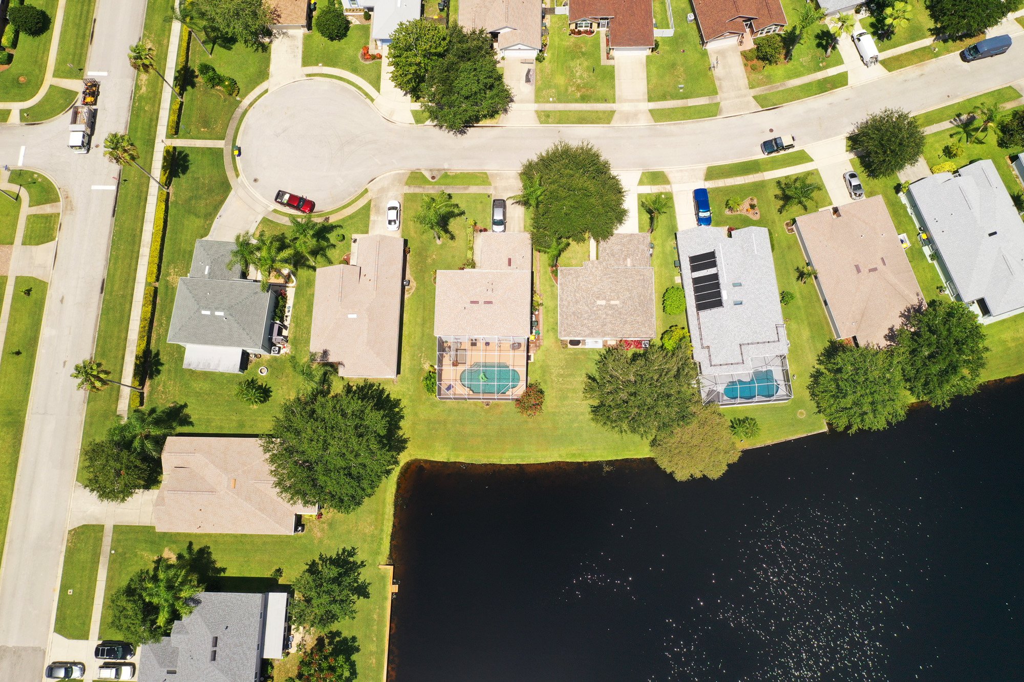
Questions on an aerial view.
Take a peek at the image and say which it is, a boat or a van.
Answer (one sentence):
Visible in the photo is a van.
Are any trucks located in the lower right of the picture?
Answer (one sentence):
No, there is no truck in the lower right of the picture.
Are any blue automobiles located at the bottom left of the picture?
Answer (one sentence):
No, there is no blue automobile at the bottom left of the picture.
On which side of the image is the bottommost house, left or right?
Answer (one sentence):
The bottommost house is on the left side of the image.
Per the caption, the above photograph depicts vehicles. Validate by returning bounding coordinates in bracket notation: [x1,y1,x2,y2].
[271,187,314,212]
[846,167,867,198]
[92,664,133,682]
[761,130,798,152]
[695,185,713,225]
[490,196,506,232]
[960,30,1020,60]
[385,198,399,229]
[89,644,133,663]
[65,99,91,153]
[40,663,83,682]
[855,25,885,63]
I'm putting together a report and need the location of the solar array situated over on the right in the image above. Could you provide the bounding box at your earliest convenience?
[689,249,785,366]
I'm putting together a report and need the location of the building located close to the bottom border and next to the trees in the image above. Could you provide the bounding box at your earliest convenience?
[139,592,272,682]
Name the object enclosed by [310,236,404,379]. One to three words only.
house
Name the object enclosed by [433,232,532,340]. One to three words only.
house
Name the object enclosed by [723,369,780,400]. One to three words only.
swimming pool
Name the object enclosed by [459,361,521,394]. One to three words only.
swimming pool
